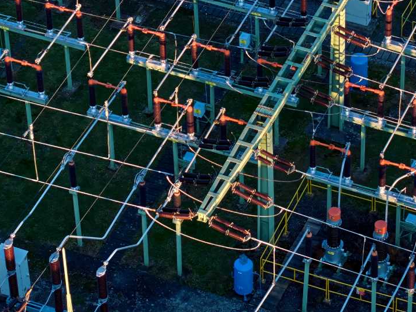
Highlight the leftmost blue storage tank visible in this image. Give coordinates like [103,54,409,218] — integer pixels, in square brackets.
[234,255,265,296]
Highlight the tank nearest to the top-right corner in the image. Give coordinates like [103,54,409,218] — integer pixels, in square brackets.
[354,51,382,89]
